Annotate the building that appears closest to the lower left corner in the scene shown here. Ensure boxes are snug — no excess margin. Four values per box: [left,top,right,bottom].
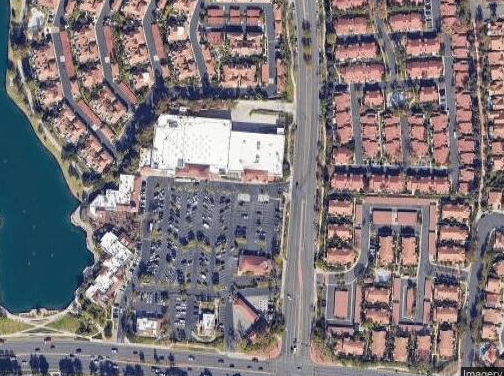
[86,274,111,297]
